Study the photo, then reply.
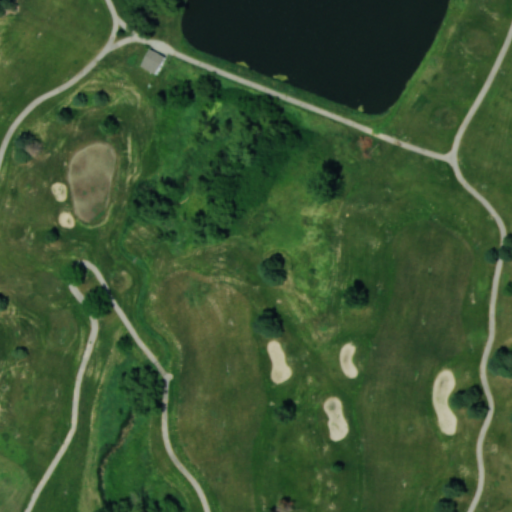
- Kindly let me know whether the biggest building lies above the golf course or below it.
above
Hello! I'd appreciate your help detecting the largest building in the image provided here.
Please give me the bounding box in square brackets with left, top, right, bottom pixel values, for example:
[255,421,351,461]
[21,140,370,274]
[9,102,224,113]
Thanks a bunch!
[140,48,164,74]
